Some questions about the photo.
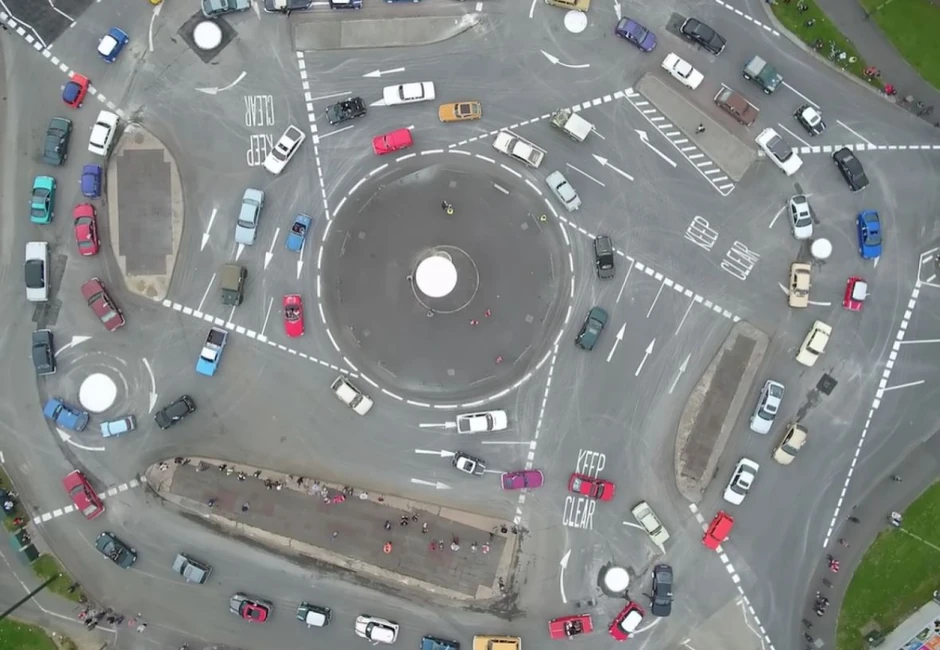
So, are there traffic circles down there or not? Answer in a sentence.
Yes, looking at the shot, I can spot a traffic circle.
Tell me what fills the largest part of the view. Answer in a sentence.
The bulk of the photo consists of paved ground.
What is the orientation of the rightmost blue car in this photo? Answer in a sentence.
I'd say the rightmost blue car is aligned from top to bottom in the picture.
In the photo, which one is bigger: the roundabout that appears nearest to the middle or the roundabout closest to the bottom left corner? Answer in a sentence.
The roundabout that appears nearest to the middle takes up more space than the roundabout closest to the bottom left corner does.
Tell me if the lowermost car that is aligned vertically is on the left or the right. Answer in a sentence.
You can find the lowermost car that is aligned vertically on the right side of the picture.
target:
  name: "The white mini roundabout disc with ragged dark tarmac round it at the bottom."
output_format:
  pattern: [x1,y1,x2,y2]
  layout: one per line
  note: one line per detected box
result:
[601,565,632,595]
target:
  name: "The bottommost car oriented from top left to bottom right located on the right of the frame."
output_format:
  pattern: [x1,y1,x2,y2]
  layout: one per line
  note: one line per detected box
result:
[632,500,669,544]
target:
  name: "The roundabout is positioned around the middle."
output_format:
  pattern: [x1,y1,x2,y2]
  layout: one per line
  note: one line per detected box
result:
[317,150,575,408]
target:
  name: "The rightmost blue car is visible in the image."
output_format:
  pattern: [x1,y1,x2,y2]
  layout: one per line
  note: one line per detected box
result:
[857,210,885,260]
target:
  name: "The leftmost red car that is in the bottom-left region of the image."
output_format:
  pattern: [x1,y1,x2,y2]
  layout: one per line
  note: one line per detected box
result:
[65,470,106,519]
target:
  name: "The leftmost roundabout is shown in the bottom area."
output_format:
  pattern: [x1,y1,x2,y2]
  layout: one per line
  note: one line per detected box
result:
[74,370,121,417]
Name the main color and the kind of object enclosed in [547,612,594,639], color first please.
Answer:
red car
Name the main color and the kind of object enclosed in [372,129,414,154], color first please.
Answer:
red car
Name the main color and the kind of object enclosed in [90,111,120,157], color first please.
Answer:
white car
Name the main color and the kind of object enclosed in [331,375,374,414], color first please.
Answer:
white car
